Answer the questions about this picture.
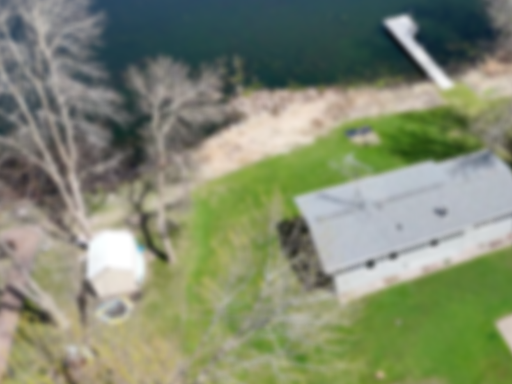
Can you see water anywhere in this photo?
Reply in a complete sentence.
Yes, the picture does contain water.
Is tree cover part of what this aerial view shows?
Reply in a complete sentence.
Yes, the picture does contain tree cover.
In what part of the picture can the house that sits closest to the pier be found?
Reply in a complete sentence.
Look in the right portion of the view to spot the house that sits closest to the pier.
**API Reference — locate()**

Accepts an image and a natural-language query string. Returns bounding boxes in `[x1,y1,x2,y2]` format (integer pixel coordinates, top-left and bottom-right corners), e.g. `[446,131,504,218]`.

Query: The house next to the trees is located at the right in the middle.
[292,145,512,302]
